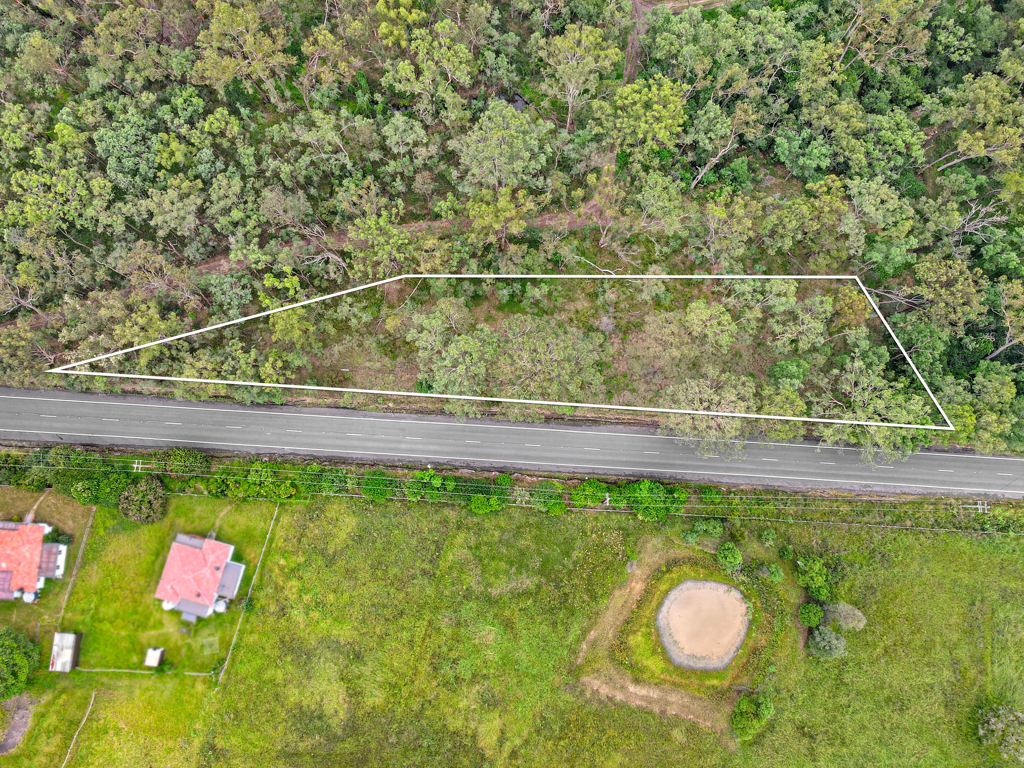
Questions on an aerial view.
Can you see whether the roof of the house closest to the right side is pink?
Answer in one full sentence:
Yes, the roof of the house closest to the right side is indeed pink.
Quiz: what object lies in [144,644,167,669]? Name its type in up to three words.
shed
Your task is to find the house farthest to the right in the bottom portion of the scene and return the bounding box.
[157,529,246,626]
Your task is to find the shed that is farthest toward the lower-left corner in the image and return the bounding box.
[48,627,83,675]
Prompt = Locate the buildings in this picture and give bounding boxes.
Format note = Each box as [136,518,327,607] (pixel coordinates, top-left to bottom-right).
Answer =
[48,627,83,675]
[144,644,167,669]
[157,529,246,626]
[0,509,70,602]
